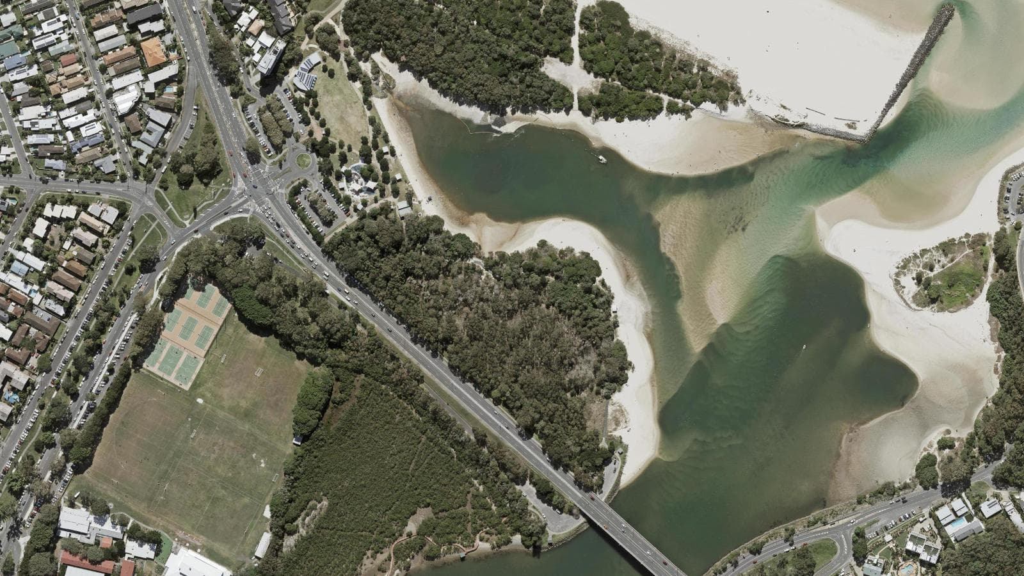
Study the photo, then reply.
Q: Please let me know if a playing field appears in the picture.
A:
Yes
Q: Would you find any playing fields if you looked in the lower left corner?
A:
Yes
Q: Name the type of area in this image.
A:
beach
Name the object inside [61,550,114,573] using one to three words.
building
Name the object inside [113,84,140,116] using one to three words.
house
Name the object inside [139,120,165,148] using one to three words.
house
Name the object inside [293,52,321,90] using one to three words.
building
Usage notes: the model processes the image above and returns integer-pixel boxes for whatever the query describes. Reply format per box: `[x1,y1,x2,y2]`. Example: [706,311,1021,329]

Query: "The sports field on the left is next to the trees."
[63,307,307,571]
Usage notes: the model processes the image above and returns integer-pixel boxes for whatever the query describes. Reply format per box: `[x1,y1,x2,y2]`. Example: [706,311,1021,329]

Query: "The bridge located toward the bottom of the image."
[578,494,689,576]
